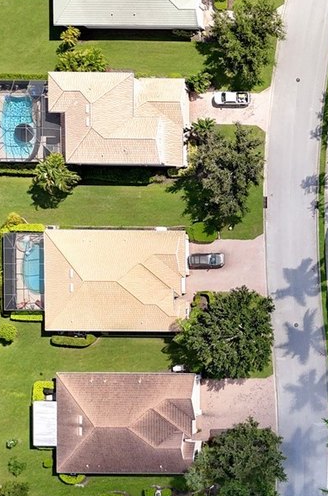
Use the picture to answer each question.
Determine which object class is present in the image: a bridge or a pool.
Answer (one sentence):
Looking from above, you can make out a pool.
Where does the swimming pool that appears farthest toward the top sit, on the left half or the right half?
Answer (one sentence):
It is on the left.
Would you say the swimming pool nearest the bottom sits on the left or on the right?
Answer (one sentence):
The swimming pool nearest the bottom appears in the left half of the scene.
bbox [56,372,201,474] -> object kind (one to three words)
house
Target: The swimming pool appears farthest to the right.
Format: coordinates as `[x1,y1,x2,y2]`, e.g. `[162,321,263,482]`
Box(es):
[21,239,44,297]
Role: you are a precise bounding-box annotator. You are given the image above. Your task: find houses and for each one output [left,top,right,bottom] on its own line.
[56,372,201,474]
[53,0,210,33]
[48,71,190,165]
[43,230,192,331]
